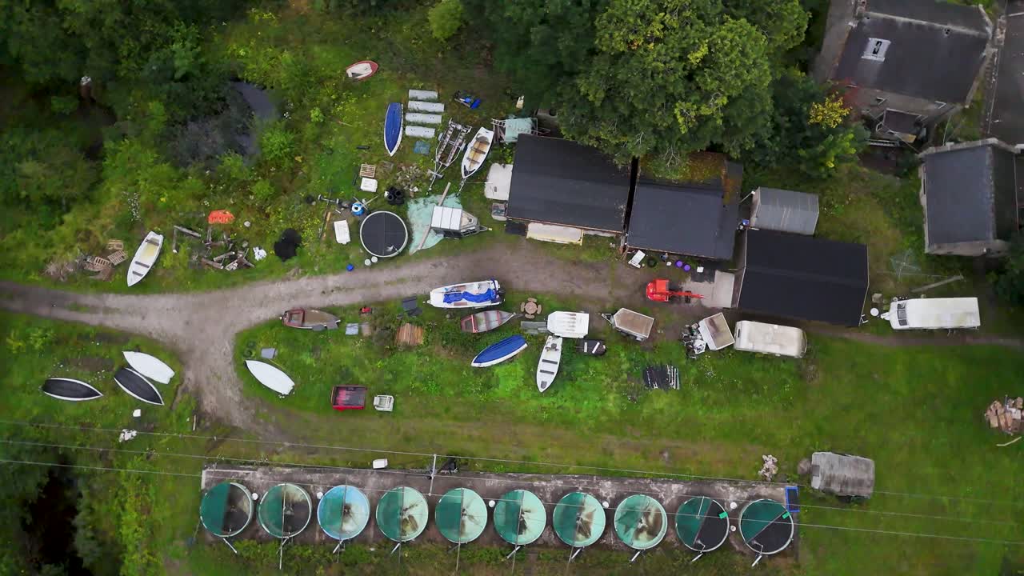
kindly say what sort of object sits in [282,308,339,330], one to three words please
boat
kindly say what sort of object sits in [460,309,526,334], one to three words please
boat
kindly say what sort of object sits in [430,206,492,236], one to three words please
trailer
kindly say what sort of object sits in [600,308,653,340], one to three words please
trailer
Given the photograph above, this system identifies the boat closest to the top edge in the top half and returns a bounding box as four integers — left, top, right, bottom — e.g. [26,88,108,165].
[345,62,379,81]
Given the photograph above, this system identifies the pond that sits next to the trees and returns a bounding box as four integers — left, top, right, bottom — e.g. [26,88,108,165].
[179,85,279,169]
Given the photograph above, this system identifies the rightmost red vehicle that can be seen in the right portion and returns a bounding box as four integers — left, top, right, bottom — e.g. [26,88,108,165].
[645,278,711,305]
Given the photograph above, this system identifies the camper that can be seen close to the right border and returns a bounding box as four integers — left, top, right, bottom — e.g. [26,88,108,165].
[881,298,981,336]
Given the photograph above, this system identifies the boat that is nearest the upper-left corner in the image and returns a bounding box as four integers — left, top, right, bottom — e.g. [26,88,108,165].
[129,232,164,286]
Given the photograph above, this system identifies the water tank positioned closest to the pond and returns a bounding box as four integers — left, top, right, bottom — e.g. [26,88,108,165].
[360,211,408,257]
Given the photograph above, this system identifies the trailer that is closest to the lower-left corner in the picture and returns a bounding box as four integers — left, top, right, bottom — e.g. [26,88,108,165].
[331,386,368,413]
